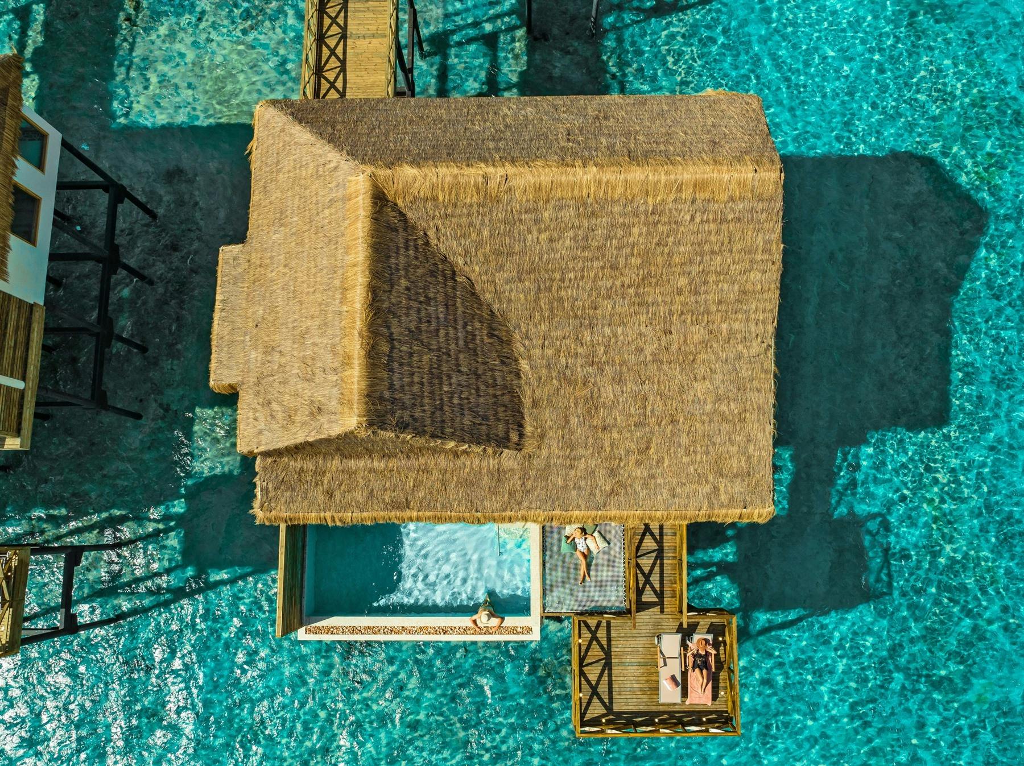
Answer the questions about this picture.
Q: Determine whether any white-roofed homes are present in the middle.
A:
No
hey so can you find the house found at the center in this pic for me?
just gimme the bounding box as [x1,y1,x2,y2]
[211,88,790,523]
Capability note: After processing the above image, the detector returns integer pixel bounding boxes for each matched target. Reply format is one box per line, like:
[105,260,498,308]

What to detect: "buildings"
[211,88,790,523]
[0,50,160,461]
